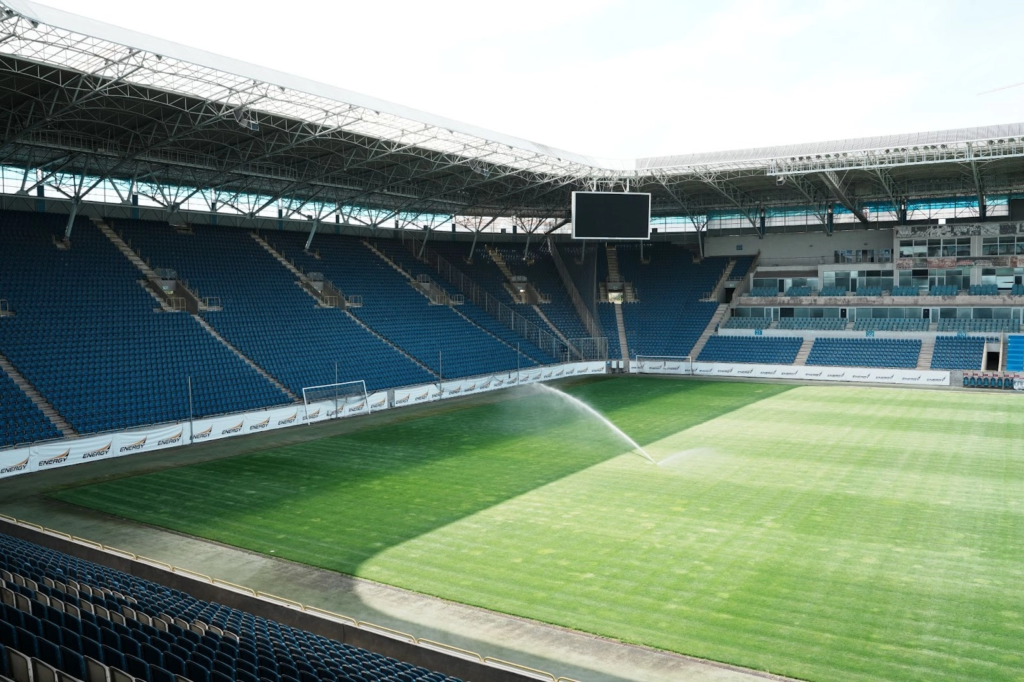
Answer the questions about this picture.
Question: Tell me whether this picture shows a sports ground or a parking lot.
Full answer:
This image shows a sports ground.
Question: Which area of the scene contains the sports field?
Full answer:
The sports field is located in the bottom region of the scene.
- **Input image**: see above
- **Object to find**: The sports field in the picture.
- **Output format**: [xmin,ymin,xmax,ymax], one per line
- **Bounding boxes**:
[42,376,1024,682]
